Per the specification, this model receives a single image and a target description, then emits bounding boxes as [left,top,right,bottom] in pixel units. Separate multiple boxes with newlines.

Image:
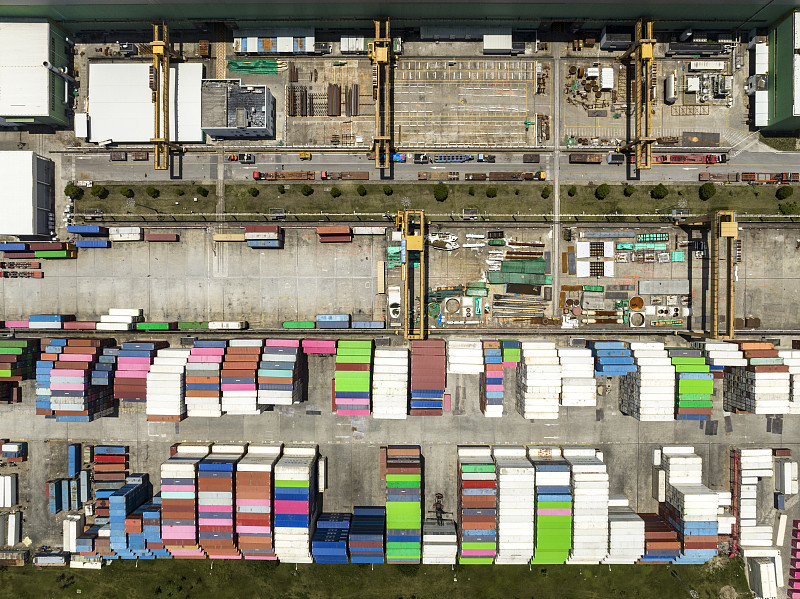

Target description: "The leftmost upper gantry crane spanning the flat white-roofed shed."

[148,25,187,170]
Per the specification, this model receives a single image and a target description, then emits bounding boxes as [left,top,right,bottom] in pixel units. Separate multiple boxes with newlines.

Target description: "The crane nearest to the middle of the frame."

[388,209,435,340]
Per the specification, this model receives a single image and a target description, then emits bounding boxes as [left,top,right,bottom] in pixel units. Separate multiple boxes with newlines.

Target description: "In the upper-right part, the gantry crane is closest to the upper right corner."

[618,24,659,170]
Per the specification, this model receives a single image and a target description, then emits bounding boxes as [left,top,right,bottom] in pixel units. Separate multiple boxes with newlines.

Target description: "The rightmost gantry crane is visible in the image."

[673,209,742,340]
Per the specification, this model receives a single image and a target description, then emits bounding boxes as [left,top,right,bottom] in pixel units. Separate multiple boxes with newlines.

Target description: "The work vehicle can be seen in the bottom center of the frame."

[426,491,452,524]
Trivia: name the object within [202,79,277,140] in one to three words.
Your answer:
building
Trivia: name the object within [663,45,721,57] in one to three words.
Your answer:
shed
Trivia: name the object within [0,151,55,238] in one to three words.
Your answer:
building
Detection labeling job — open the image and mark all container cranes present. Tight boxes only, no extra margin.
[388,209,435,340]
[148,25,187,170]
[673,209,742,340]
[618,24,659,170]
[368,25,398,170]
